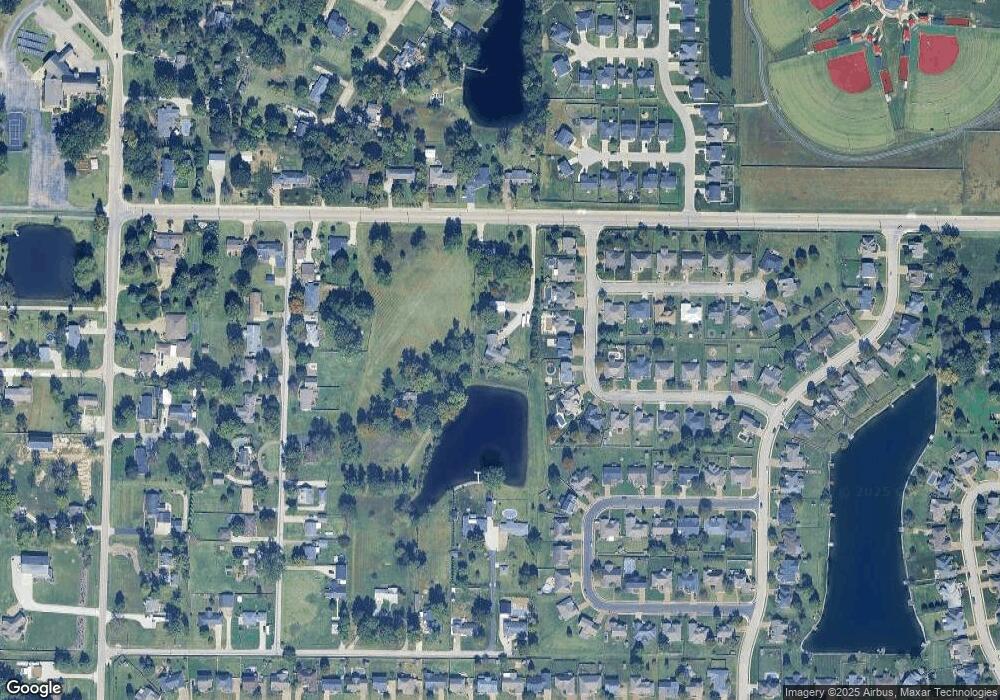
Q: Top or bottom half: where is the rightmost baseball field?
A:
top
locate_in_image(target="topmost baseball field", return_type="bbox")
[750,0,843,52]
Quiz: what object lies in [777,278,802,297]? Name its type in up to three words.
house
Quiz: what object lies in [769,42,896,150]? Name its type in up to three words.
baseball field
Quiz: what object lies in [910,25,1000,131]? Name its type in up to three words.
baseball field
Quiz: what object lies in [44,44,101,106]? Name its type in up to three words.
building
